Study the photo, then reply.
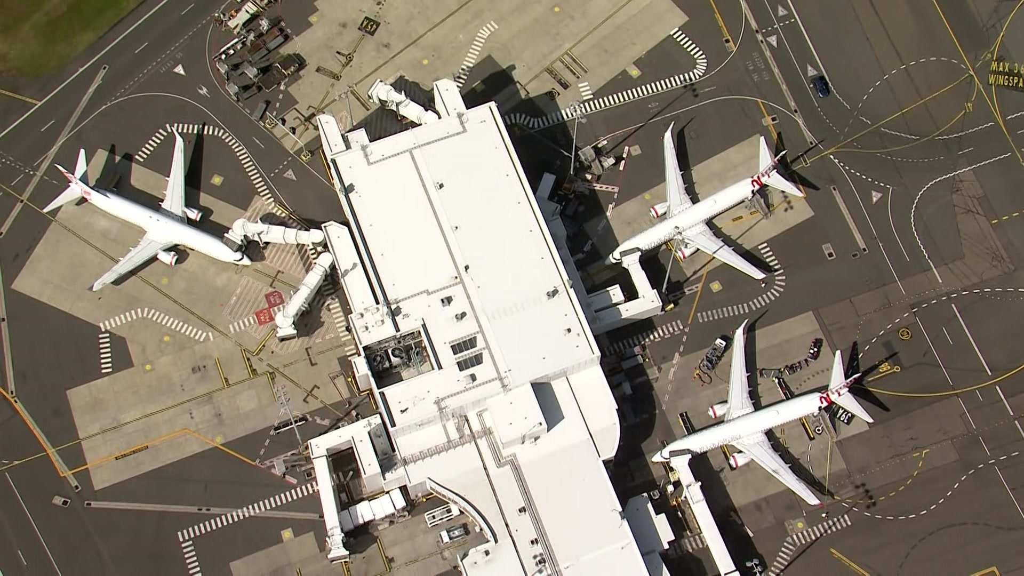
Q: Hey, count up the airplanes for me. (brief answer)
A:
three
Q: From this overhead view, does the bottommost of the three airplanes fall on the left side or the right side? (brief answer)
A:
right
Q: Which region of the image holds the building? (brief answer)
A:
center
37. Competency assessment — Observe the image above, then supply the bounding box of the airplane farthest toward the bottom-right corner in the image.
[652,319,874,505]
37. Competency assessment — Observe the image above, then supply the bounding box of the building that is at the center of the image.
[308,79,675,576]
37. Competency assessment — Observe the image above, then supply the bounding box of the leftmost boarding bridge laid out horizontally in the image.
[223,217,327,258]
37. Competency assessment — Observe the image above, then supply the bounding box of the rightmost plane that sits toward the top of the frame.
[604,121,805,279]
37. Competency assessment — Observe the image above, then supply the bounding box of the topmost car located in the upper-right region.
[814,76,828,96]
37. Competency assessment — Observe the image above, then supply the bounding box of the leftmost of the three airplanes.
[44,126,253,292]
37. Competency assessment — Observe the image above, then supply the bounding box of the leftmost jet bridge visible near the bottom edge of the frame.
[311,458,351,562]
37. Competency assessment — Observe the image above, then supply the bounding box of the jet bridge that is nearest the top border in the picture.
[368,79,440,125]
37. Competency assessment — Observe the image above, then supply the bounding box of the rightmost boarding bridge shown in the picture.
[669,449,737,576]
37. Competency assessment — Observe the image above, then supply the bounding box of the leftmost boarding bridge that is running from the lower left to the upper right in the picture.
[275,254,334,345]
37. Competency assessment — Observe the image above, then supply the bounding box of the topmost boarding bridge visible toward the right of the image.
[620,249,651,300]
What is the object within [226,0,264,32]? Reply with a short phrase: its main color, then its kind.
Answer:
white truck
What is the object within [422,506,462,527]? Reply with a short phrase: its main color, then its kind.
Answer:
white truck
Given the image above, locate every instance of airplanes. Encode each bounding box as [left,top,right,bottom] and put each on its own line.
[652,319,874,505]
[44,126,253,292]
[604,121,805,279]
